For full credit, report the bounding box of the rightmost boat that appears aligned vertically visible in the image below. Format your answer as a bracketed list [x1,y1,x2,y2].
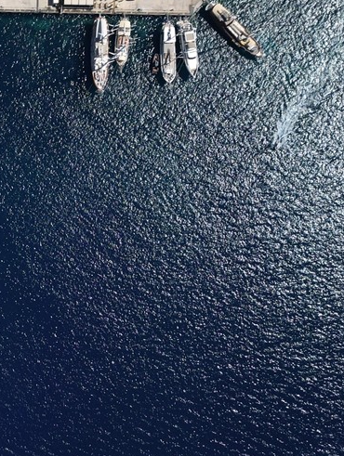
[177,22,206,77]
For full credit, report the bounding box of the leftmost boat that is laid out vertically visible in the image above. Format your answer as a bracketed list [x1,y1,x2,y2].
[93,17,118,90]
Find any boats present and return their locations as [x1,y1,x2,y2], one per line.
[93,17,118,90]
[177,22,206,77]
[115,20,137,73]
[152,52,161,74]
[160,23,189,83]
[207,0,271,57]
